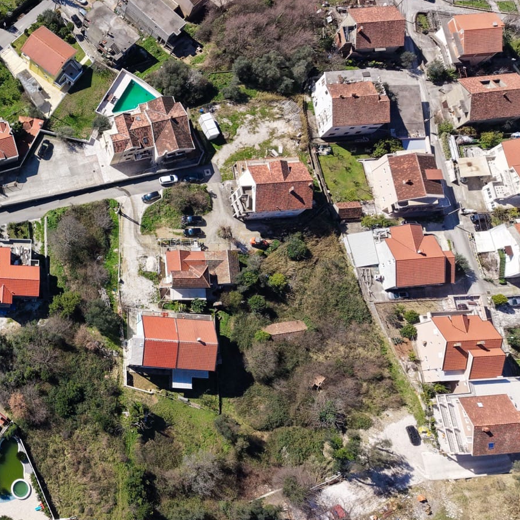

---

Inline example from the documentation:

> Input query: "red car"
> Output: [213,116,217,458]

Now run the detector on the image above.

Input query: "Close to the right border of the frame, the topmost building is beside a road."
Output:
[435,12,505,65]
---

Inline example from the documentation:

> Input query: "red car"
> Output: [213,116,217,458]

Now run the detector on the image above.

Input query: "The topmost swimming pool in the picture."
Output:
[110,78,157,115]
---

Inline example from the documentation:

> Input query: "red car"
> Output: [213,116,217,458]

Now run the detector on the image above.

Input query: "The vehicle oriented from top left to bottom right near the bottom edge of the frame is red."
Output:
[328,498,349,520]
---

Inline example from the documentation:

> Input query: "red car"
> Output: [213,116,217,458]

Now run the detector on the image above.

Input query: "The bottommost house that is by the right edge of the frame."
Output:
[428,377,520,456]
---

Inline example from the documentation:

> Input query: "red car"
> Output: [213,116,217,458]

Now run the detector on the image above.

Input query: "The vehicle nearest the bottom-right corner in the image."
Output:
[405,425,420,446]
